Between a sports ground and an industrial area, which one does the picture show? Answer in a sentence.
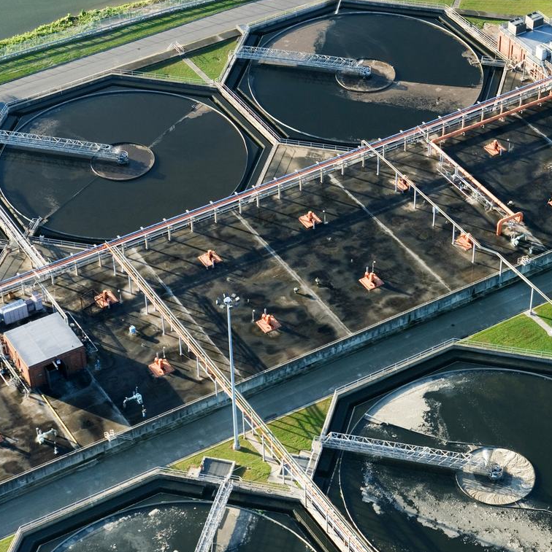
The picture captures an industrial area.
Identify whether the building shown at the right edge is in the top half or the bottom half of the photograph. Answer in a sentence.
The top half of the photo is where the building shown at the right edge is.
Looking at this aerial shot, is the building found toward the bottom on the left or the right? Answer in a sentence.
The building found toward the bottom sits on the left side.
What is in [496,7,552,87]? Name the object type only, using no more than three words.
building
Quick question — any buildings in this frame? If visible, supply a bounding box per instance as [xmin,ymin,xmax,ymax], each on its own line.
[496,7,552,87]
[1,310,84,388]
